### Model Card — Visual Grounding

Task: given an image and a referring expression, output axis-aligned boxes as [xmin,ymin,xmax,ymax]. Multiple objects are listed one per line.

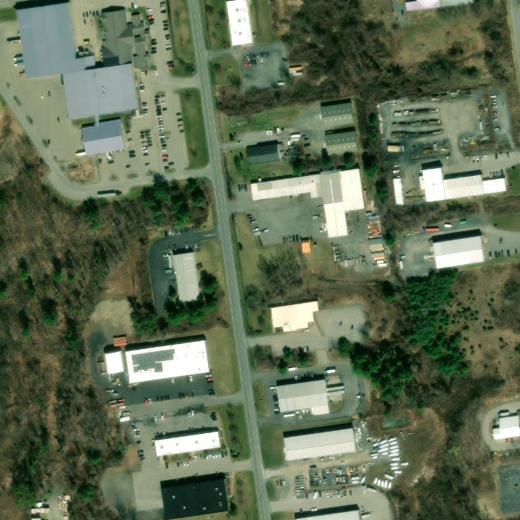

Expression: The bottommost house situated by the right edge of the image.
[493,411,520,440]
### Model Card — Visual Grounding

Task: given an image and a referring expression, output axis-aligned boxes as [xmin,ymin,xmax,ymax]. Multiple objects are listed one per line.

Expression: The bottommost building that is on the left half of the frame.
[161,479,230,520]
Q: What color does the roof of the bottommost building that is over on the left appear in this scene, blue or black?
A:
black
